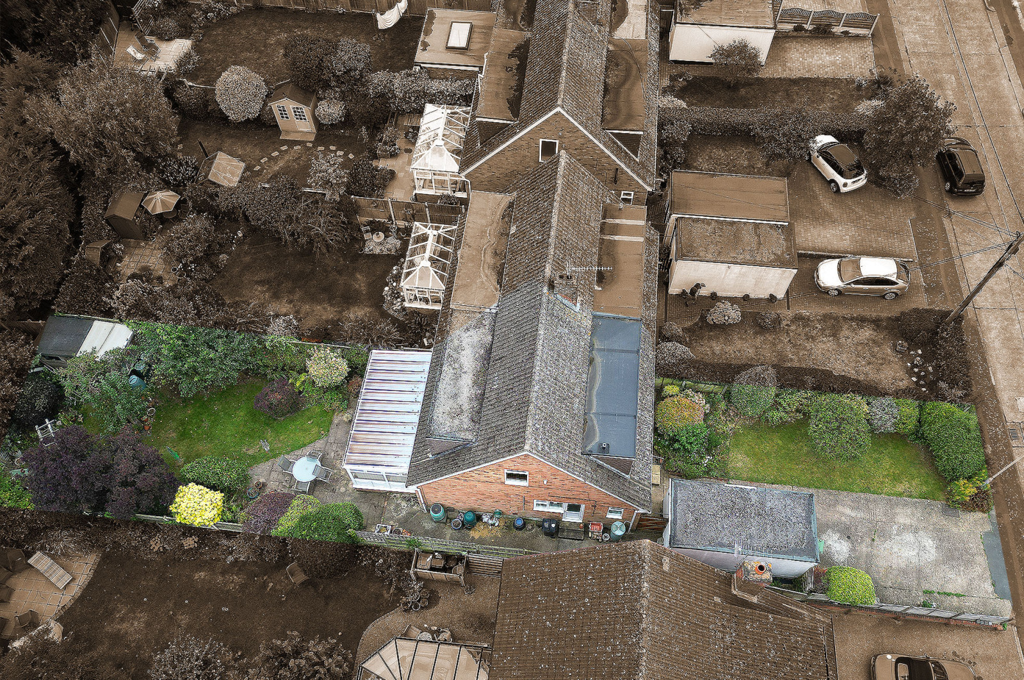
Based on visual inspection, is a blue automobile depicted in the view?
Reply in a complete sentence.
No, the frame has no blue automobile in it.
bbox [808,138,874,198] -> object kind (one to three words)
car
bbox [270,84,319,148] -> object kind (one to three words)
shed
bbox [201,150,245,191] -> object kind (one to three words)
greenhouse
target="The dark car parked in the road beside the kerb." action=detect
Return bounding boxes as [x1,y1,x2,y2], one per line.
[939,139,990,204]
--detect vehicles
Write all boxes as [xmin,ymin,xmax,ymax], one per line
[808,138,874,198]
[939,139,990,204]
[864,647,985,680]
[814,254,914,305]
